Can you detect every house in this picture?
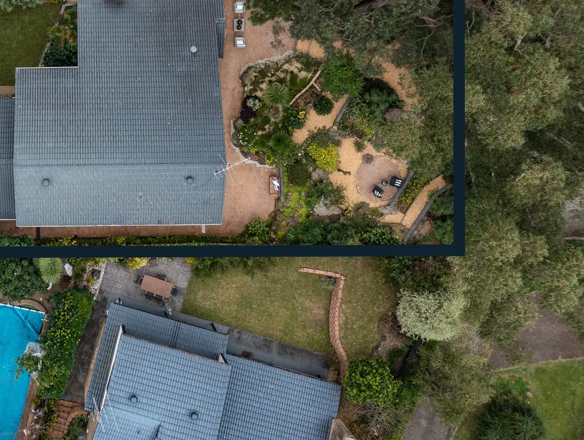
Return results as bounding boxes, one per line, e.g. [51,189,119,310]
[69,285,342,440]
[0,0,226,227]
